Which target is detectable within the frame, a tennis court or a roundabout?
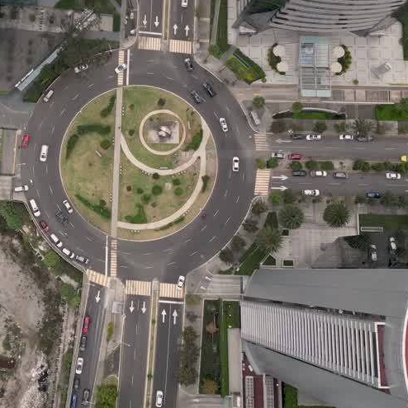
roundabout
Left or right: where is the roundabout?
left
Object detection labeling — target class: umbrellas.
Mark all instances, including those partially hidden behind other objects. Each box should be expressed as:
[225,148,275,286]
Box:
[332,47,343,58]
[276,62,287,73]
[330,63,341,74]
[273,46,284,58]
